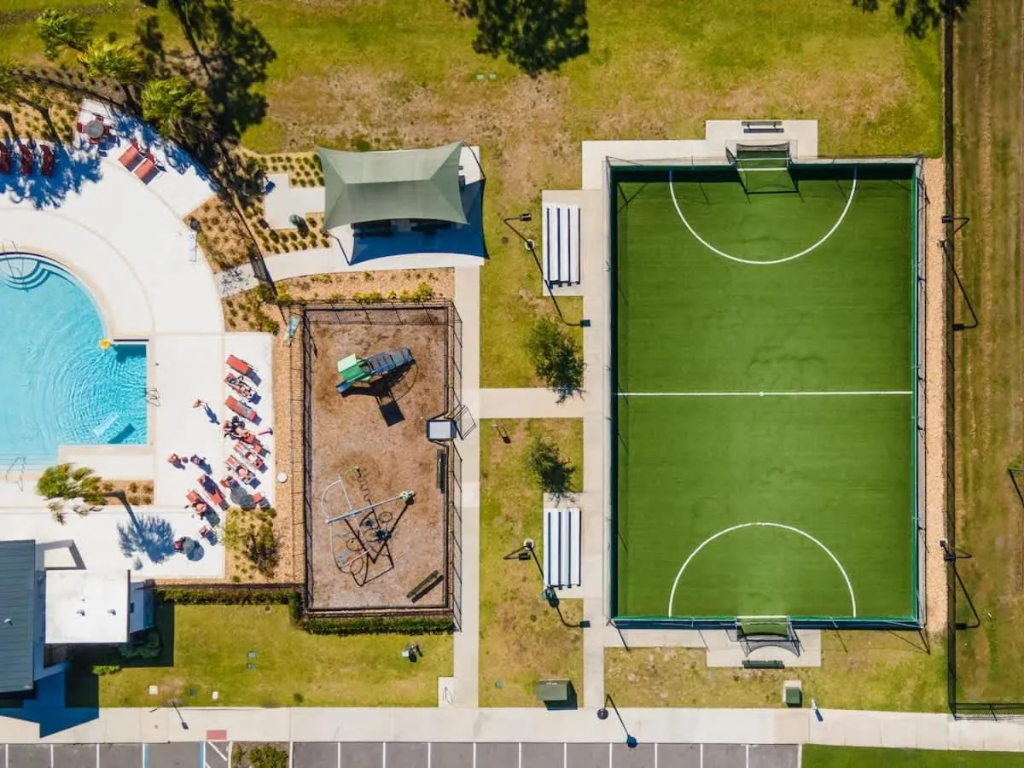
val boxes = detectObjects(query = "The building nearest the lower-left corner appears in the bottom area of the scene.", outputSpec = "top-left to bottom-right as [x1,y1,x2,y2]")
[0,538,158,693]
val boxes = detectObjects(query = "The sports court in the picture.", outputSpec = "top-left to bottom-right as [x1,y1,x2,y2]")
[612,147,913,639]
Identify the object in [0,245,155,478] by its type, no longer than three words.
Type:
swimming pool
